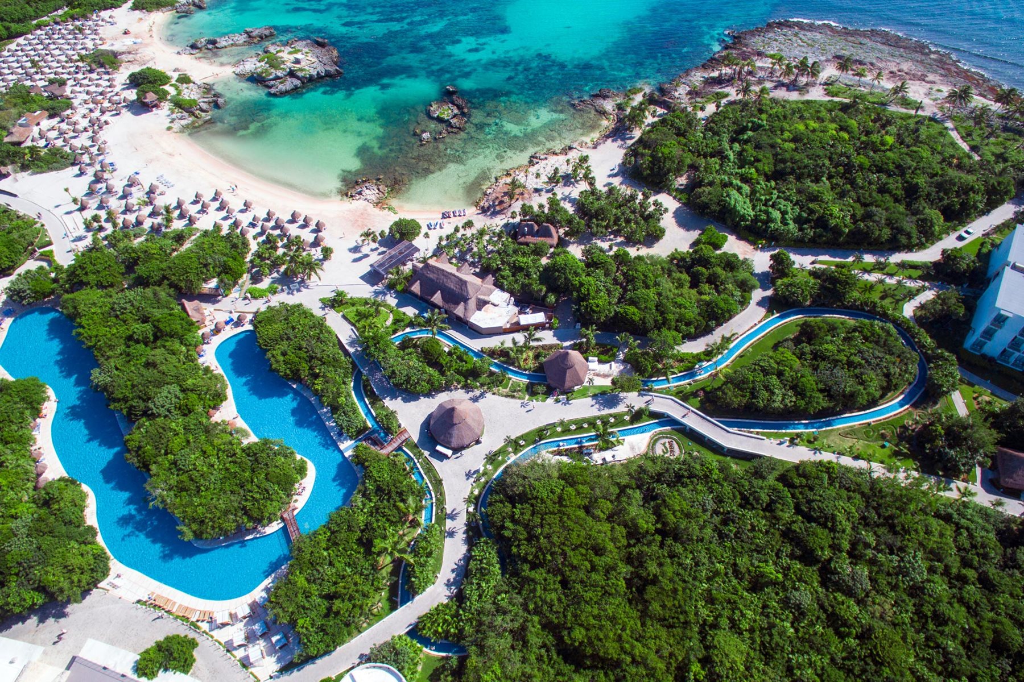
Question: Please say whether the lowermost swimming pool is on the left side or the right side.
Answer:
left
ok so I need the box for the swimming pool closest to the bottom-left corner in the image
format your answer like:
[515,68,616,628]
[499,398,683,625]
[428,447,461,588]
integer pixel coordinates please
[0,308,357,599]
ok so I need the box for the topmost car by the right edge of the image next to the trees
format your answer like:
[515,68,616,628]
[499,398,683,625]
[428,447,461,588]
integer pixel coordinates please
[960,227,974,240]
